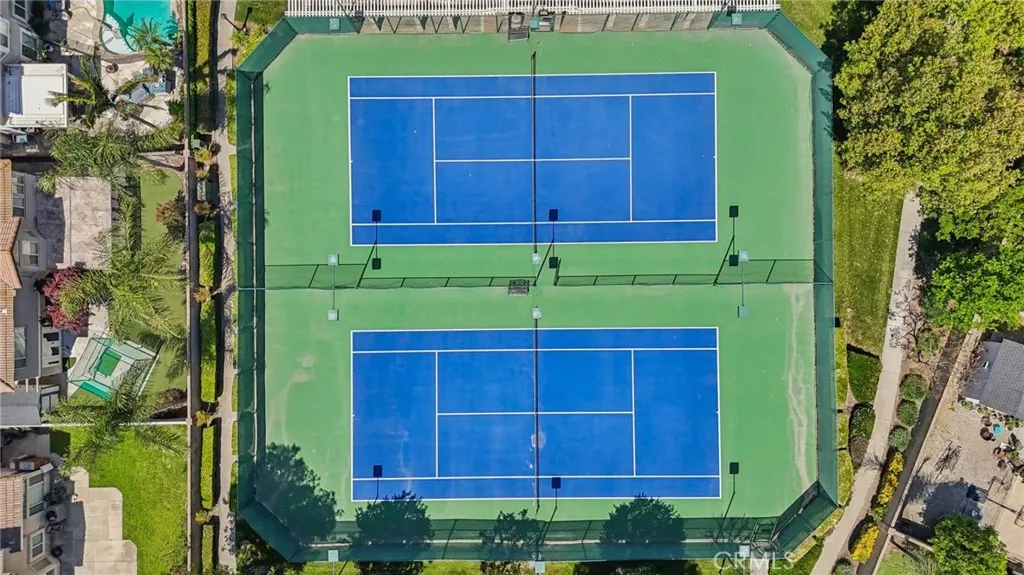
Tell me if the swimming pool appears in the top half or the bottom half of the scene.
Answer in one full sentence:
Seen from above, the swimming pool lies in the top half of the view.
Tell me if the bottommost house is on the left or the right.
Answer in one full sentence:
You can find the bottommost house on the left side of the picture.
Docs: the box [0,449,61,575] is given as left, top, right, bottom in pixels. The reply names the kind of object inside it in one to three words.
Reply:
house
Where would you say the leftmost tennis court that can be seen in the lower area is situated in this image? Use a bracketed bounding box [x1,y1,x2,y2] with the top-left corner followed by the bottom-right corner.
[351,327,722,501]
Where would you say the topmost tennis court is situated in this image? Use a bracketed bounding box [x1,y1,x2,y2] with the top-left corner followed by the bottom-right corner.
[348,71,718,246]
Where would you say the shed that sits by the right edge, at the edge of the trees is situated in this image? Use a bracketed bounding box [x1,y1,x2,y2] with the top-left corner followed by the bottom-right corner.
[961,339,1024,416]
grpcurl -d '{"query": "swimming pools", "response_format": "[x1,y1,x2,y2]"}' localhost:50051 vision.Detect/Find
[95,0,182,59]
